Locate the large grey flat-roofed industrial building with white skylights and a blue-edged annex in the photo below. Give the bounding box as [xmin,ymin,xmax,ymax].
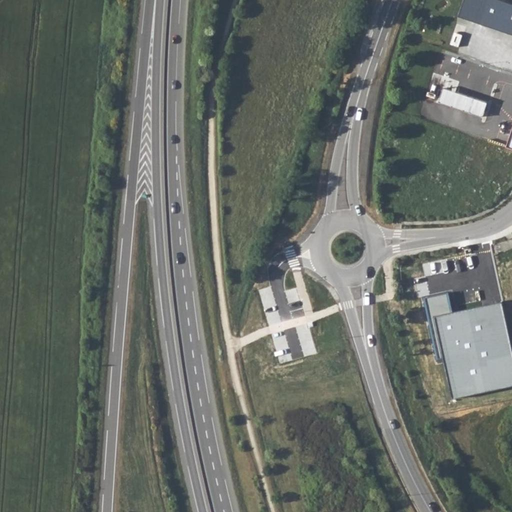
[421,288,512,399]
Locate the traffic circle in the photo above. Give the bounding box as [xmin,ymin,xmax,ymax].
[308,209,387,288]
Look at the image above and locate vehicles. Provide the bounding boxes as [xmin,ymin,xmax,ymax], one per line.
[356,108,362,121]
[348,105,354,116]
[466,256,474,270]
[428,501,436,512]
[291,301,302,308]
[430,262,436,274]
[355,204,362,216]
[273,332,284,338]
[390,419,397,430]
[364,293,370,306]
[171,202,176,214]
[172,80,176,90]
[172,34,177,45]
[368,266,373,278]
[454,261,460,273]
[368,335,374,347]
[274,349,288,356]
[176,252,182,264]
[450,58,462,64]
[442,260,448,274]
[415,277,426,284]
